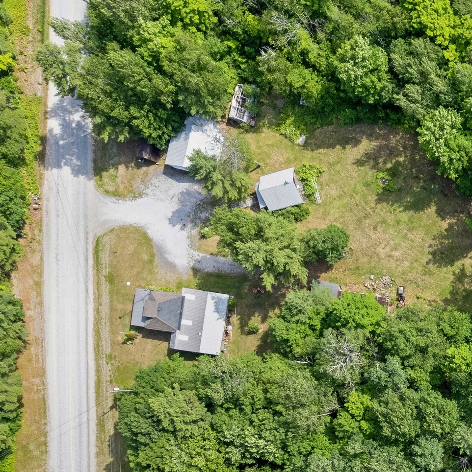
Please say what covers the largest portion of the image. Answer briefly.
trees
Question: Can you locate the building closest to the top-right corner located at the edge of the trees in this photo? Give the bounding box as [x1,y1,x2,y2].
[255,168,305,210]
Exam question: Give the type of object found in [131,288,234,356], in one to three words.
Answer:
house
